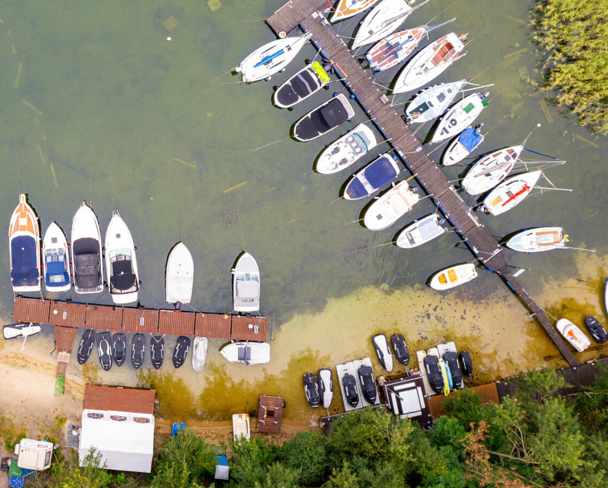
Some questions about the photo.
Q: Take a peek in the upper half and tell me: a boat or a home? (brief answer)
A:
boat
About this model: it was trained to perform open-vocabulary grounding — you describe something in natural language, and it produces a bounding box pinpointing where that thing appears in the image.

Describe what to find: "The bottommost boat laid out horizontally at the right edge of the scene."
[499,226,598,254]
